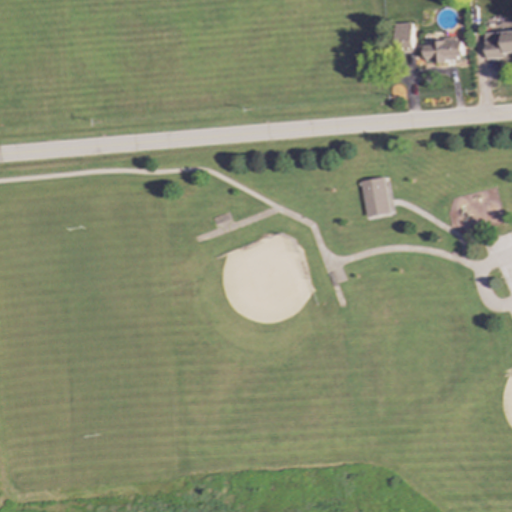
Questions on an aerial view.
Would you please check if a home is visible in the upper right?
Yes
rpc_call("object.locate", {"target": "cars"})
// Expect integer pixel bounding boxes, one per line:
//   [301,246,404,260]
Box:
[454,70,460,83]
[413,84,418,96]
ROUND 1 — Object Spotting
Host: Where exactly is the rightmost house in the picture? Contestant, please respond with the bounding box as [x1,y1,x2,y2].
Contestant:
[484,32,512,60]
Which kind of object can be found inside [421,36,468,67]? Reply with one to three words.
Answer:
house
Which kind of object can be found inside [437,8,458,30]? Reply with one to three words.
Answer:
swimming pool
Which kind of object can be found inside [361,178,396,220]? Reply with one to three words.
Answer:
building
